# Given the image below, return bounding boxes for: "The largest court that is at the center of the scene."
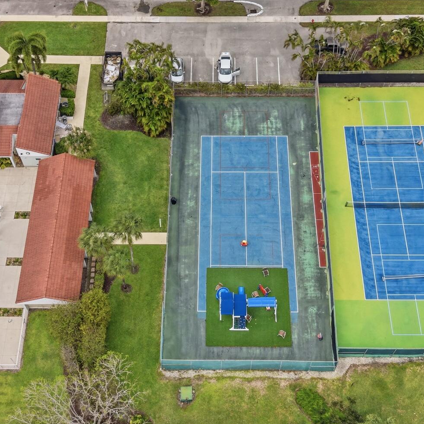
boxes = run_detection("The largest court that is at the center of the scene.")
[163,97,332,368]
